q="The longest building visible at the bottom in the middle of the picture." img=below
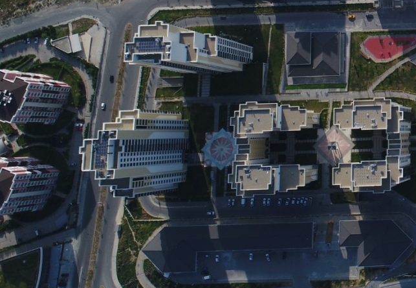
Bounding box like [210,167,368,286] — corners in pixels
[141,222,315,272]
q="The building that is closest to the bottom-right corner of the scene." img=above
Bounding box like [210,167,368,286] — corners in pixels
[340,220,413,266]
